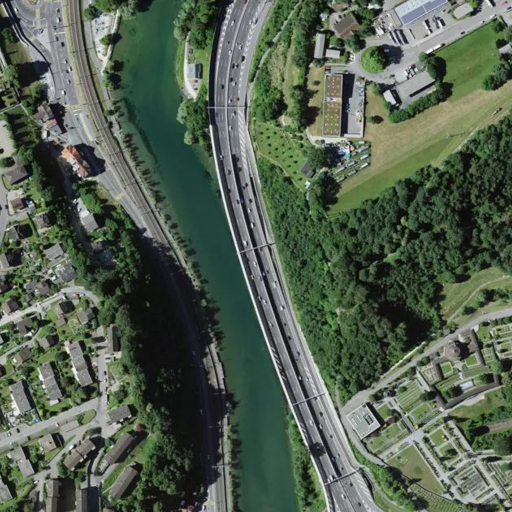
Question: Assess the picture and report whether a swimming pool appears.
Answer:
No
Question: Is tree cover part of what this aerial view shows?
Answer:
Yes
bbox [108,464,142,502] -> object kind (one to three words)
house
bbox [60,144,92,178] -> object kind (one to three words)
house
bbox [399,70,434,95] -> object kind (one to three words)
building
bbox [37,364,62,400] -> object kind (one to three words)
building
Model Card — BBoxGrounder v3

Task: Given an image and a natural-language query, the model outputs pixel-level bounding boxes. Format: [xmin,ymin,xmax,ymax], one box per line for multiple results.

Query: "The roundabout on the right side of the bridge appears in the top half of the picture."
[354,39,396,82]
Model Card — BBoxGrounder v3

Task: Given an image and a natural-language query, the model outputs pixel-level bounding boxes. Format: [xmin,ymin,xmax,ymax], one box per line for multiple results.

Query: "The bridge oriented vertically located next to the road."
[209,0,354,512]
